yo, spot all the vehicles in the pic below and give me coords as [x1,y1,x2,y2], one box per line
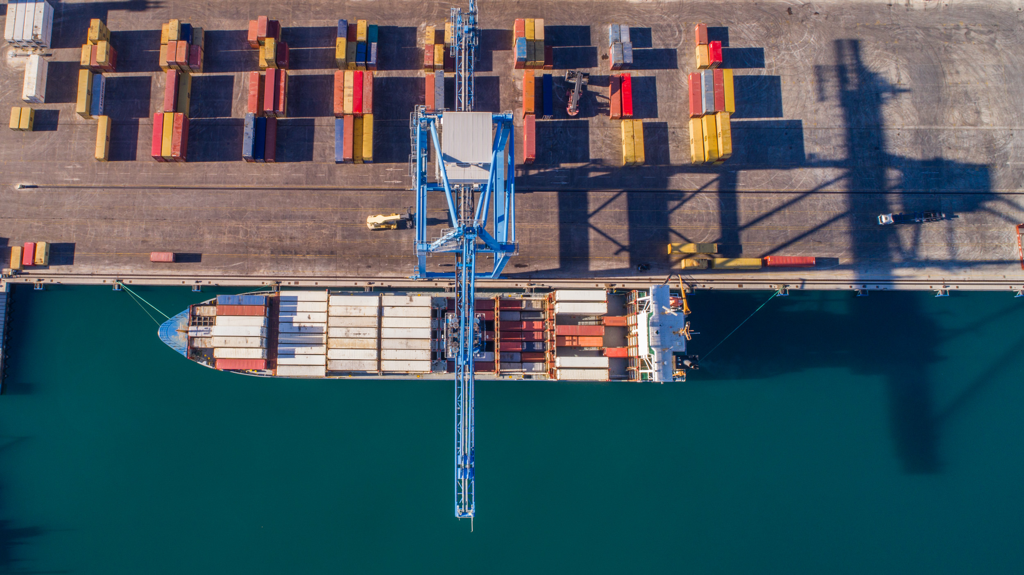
[564,64,591,120]
[367,207,416,232]
[638,264,651,270]
[875,210,942,225]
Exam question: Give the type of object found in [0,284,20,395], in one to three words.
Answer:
pier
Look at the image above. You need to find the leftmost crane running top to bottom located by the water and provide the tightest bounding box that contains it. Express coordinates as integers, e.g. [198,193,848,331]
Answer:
[403,0,521,535]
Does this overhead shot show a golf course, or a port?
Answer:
port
